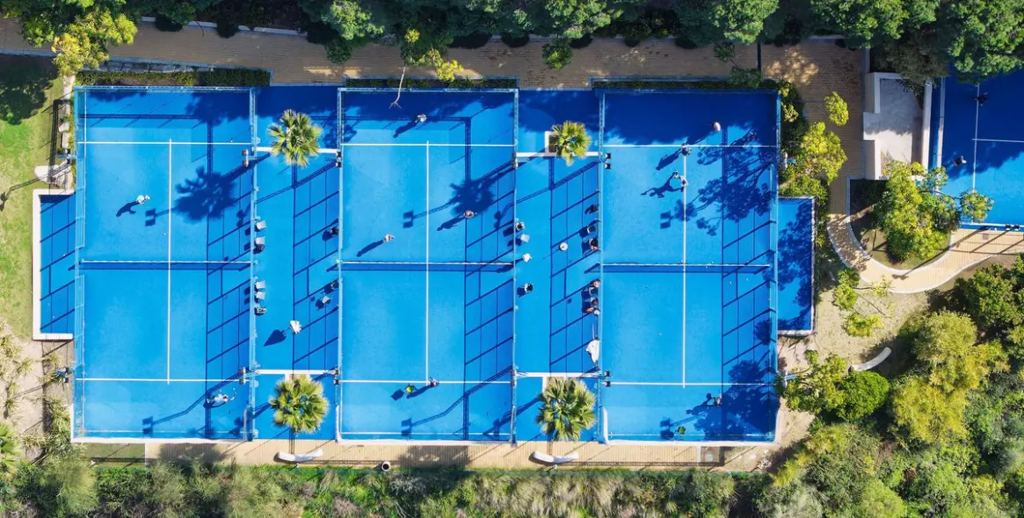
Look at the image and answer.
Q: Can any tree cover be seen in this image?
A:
Yes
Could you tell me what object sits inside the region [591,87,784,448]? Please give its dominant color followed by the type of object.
blue sports court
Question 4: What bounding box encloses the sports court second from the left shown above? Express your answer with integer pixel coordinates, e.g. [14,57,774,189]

[334,86,520,446]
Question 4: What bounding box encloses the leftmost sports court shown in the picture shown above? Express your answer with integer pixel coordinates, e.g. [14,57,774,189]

[68,84,262,445]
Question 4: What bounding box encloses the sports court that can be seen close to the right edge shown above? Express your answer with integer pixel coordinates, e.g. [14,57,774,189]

[928,46,1024,228]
